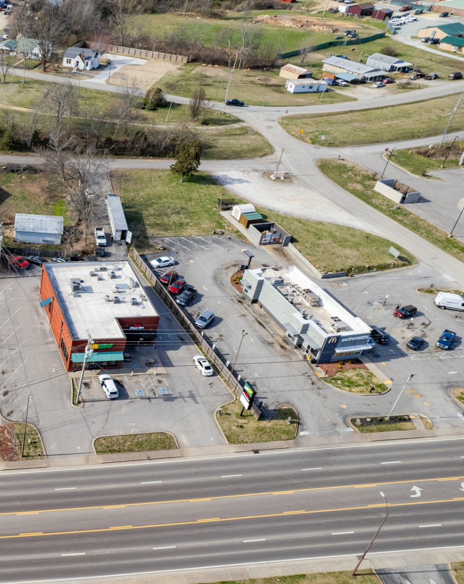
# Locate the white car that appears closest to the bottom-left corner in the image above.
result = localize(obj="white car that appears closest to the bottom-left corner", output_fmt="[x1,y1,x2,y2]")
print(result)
[99,376,118,397]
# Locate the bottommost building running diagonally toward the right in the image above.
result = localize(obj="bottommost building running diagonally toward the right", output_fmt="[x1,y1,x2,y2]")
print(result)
[234,266,379,365]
